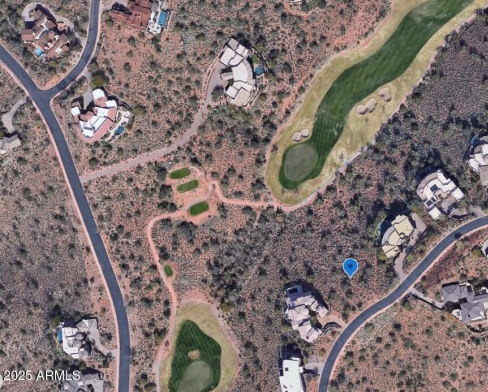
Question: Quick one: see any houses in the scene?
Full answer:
Yes, a house is visible in the scene.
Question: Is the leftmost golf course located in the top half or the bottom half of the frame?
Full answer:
Seen from above, the leftmost golf course lies in the bottom half of the view.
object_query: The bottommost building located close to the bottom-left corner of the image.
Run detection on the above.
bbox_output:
[62,372,101,392]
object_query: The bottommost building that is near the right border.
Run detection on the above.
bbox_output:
[440,280,488,327]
